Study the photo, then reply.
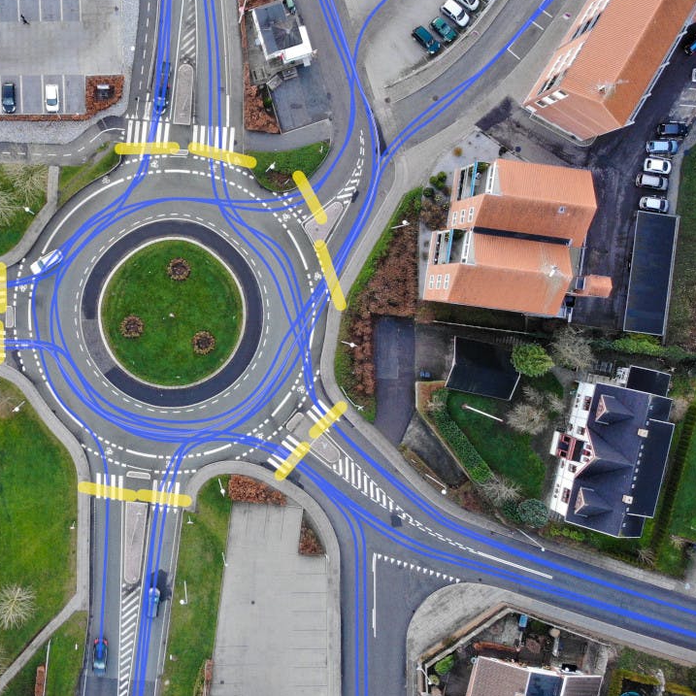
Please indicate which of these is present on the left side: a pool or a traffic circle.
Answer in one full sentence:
What appears on the left side is a traffic circle.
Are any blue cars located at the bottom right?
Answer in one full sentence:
No, there is no blue car at the bottom right.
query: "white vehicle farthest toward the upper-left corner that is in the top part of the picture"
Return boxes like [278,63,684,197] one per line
[43,84,59,113]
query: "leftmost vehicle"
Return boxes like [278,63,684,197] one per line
[0,82,17,114]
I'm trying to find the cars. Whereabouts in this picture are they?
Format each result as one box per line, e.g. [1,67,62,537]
[439,0,470,28]
[411,24,441,56]
[638,196,669,212]
[429,15,458,44]
[656,121,688,138]
[31,249,63,274]
[690,68,696,84]
[152,86,168,116]
[147,587,161,619]
[0,82,17,114]
[641,157,672,173]
[681,32,696,56]
[457,0,480,13]
[43,84,59,113]
[645,139,678,155]
[635,173,669,190]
